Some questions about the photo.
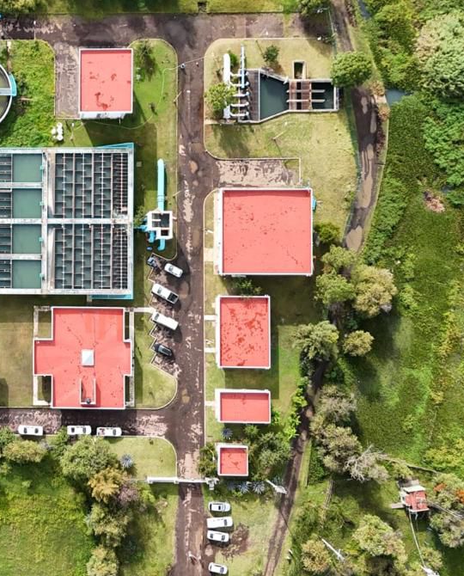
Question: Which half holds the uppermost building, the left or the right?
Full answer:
The uppermost building sits on the left side.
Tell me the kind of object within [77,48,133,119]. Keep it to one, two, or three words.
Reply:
building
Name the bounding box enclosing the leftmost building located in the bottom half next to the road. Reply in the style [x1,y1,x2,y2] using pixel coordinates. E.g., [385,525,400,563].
[34,306,131,408]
